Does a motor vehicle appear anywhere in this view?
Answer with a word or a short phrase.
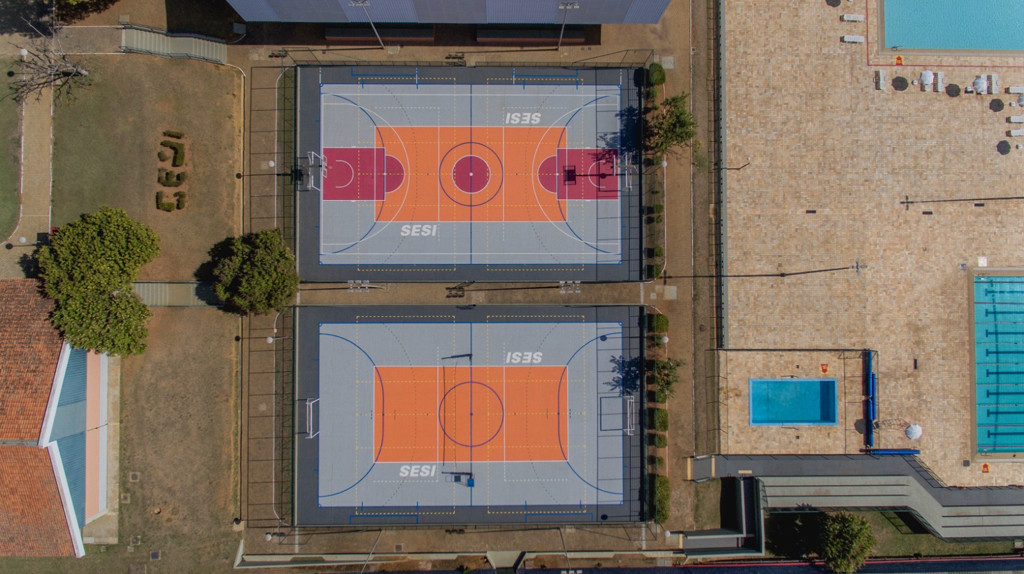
No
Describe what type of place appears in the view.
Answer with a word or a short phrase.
sports ground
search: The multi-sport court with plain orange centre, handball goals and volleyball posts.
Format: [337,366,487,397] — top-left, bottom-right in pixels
[298,307,643,524]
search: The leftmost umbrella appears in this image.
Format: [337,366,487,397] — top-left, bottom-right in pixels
[915,69,936,85]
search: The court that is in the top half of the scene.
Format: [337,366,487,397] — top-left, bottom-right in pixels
[299,66,643,280]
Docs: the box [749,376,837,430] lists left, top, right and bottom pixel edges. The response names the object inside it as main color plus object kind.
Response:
blue swimming pool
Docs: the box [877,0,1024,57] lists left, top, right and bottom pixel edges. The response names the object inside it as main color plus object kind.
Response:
blue swimming pool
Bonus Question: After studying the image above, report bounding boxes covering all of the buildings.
[223,0,671,23]
[0,278,108,558]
